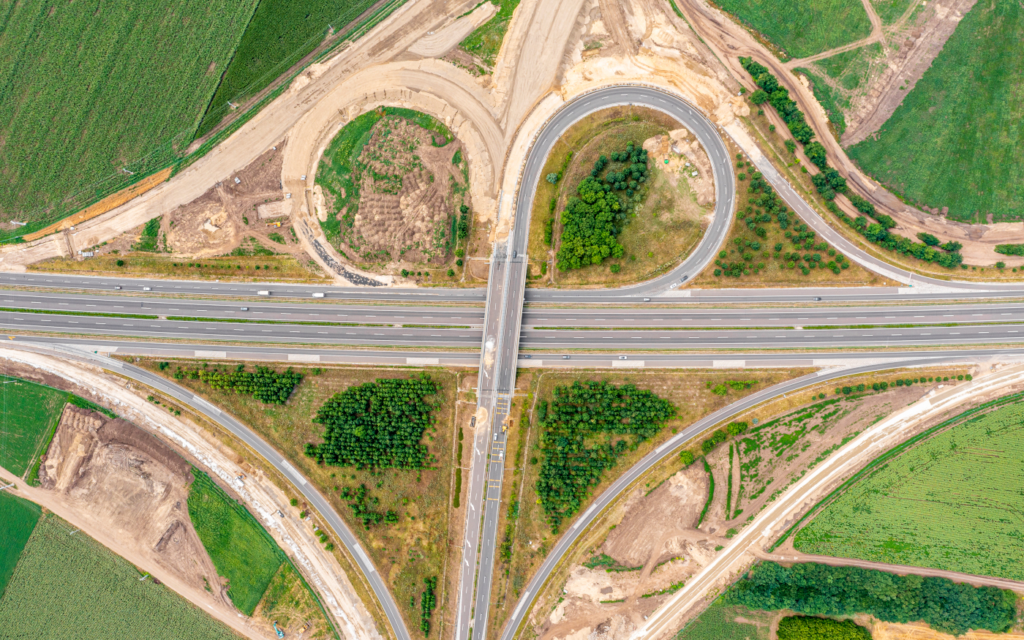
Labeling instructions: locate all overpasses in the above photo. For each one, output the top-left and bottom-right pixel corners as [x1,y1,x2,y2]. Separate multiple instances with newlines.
[471,250,536,402]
